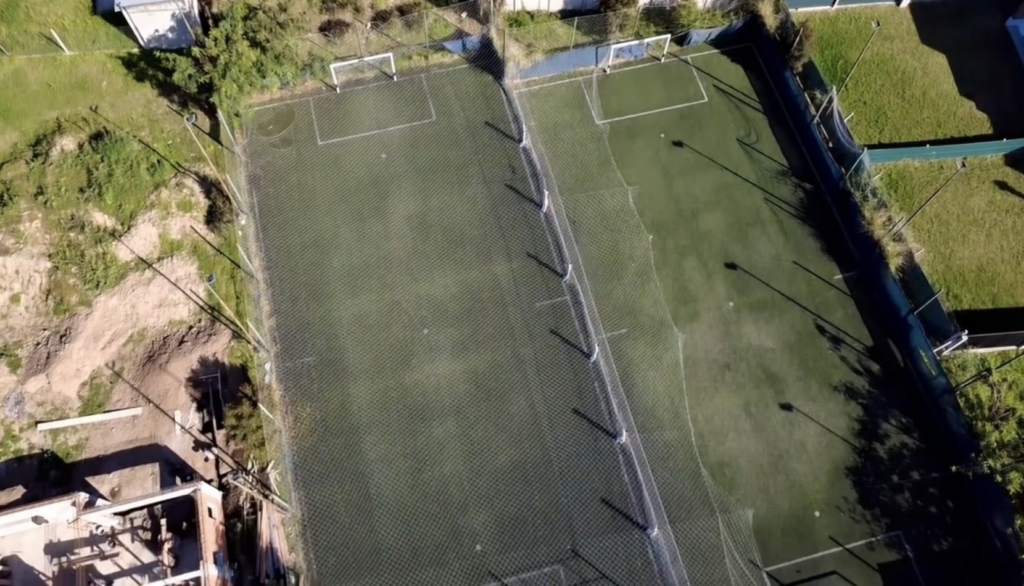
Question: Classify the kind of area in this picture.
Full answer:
The area seen from above is a sports ground.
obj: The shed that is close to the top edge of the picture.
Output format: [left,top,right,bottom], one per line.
[112,0,197,50]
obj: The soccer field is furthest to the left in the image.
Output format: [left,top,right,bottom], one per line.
[240,59,659,586]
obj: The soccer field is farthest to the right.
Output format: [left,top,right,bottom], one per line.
[502,41,1023,586]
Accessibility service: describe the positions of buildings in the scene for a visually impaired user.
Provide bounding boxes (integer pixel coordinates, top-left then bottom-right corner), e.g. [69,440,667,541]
[0,480,236,586]
[112,0,197,50]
